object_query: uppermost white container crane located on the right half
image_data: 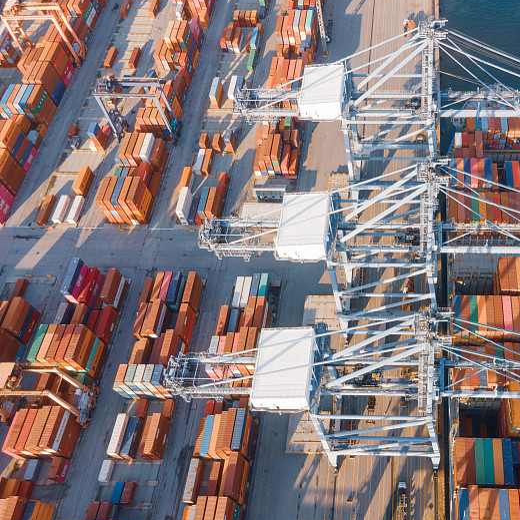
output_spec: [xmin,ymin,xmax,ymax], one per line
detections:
[230,10,520,216]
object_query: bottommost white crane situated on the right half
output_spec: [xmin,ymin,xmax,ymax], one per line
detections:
[161,298,520,483]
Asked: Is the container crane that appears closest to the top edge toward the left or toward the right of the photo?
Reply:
left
